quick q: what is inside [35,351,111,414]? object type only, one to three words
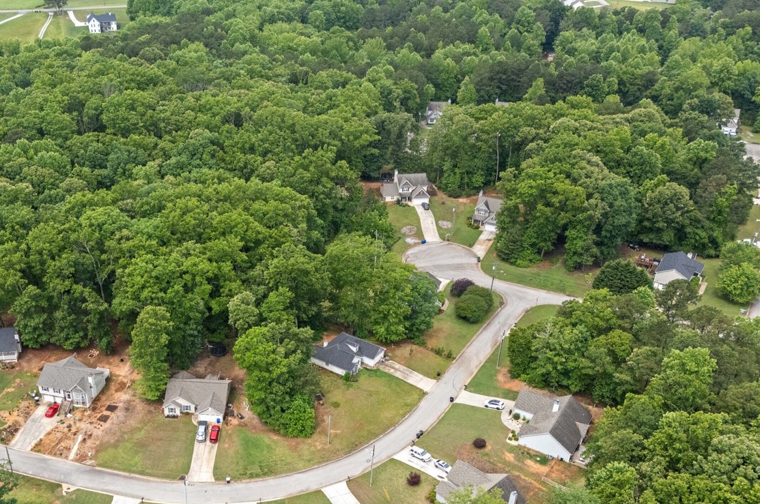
house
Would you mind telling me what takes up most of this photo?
trees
